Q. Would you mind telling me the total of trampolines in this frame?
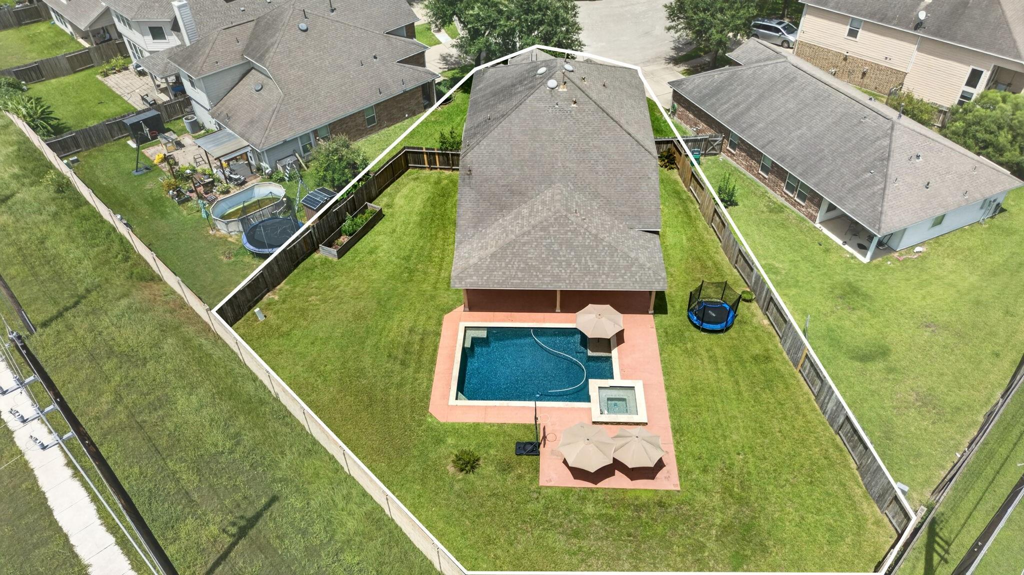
2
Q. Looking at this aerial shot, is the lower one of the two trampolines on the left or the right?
right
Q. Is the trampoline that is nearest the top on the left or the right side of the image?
left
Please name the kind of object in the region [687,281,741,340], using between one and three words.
trampoline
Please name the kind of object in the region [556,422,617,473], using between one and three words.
umbrella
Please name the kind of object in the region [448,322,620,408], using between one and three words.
swimming pool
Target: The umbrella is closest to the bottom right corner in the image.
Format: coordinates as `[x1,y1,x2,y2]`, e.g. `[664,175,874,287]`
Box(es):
[610,425,664,468]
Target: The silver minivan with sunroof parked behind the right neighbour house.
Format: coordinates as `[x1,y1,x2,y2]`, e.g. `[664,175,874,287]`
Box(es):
[751,15,798,45]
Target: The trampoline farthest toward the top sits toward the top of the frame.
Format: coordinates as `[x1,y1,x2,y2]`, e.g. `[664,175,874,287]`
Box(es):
[235,200,301,258]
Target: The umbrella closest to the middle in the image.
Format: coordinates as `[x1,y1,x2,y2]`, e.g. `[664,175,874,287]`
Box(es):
[576,304,625,348]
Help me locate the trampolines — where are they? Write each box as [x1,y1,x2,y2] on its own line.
[235,200,301,258]
[687,281,741,340]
